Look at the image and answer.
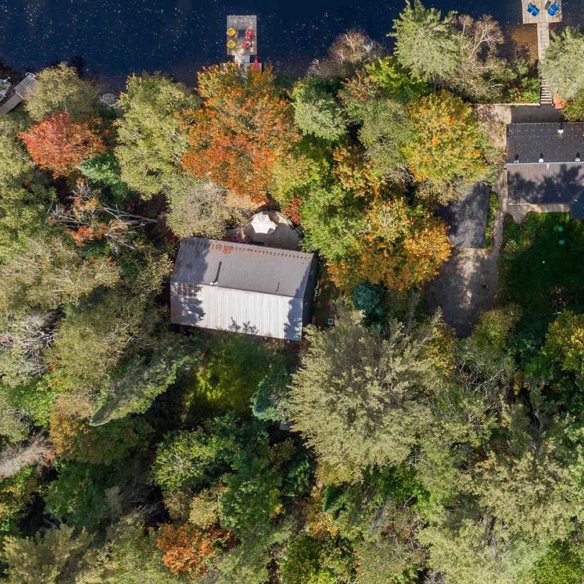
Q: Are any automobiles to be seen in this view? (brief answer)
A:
No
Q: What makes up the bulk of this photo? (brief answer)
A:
trees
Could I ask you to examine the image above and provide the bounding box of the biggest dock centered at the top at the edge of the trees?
[227,15,258,55]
